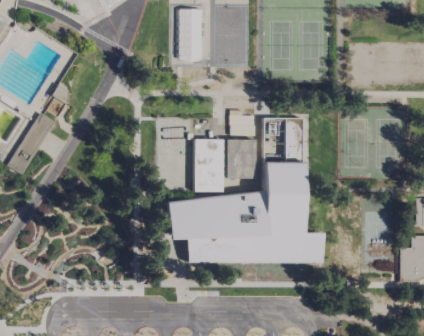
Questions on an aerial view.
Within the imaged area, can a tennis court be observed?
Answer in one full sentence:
Yes, the photo shows a tennis court.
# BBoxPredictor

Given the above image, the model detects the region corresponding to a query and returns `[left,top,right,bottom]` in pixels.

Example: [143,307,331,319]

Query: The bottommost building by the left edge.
[5,116,54,172]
